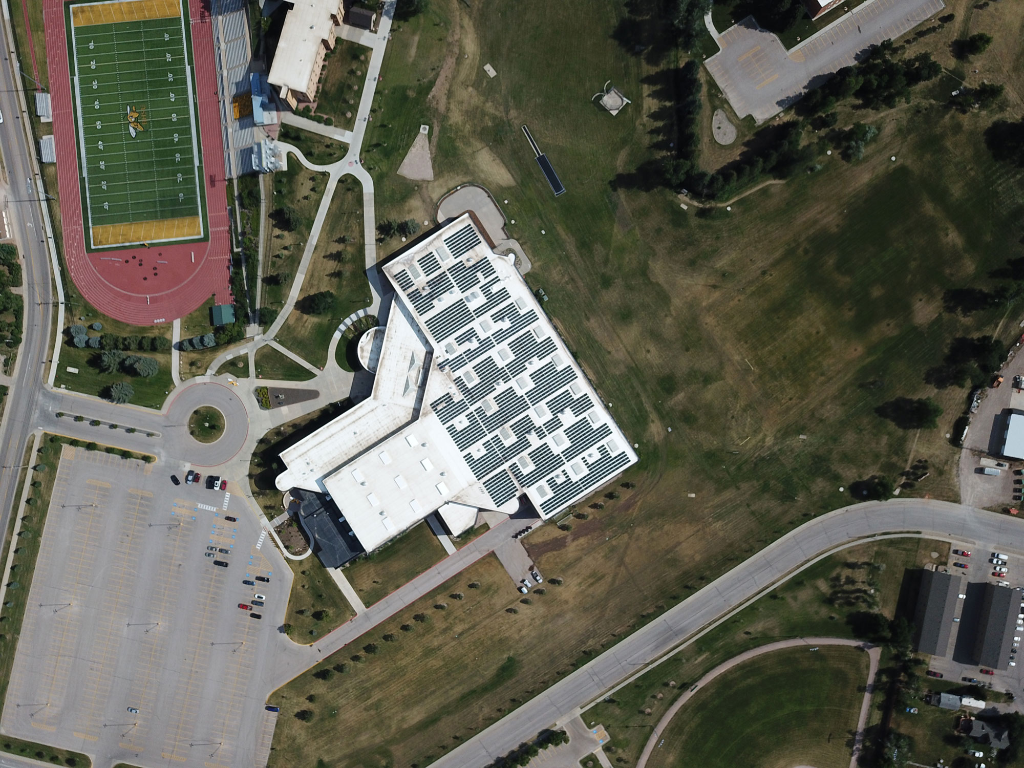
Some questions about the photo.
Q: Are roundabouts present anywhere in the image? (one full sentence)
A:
Yes, the photo shows a roundabout.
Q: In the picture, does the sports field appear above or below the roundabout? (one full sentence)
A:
As seen from overhead, the sports field falls above the roundabout in the picture.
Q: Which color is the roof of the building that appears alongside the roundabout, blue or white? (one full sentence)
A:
The roof of the building that appears alongside the roundabout looks white in the image.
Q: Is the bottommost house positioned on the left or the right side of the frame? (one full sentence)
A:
It is on the right.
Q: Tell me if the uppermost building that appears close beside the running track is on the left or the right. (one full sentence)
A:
The uppermost building that appears close beside the running track is on the left side of the image.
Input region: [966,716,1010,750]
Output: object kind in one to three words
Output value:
house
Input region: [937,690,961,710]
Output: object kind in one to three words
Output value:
shed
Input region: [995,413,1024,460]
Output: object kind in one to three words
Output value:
building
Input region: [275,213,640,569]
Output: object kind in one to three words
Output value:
building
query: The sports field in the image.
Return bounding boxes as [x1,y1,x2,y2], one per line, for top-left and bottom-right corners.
[63,0,209,255]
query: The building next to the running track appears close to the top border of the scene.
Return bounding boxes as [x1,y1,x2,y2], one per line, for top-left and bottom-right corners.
[267,0,351,107]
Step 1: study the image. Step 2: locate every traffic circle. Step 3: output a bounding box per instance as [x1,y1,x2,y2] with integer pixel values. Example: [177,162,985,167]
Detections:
[166,382,249,467]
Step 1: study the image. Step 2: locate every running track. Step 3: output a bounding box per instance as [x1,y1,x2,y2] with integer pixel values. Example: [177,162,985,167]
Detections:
[41,0,234,325]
